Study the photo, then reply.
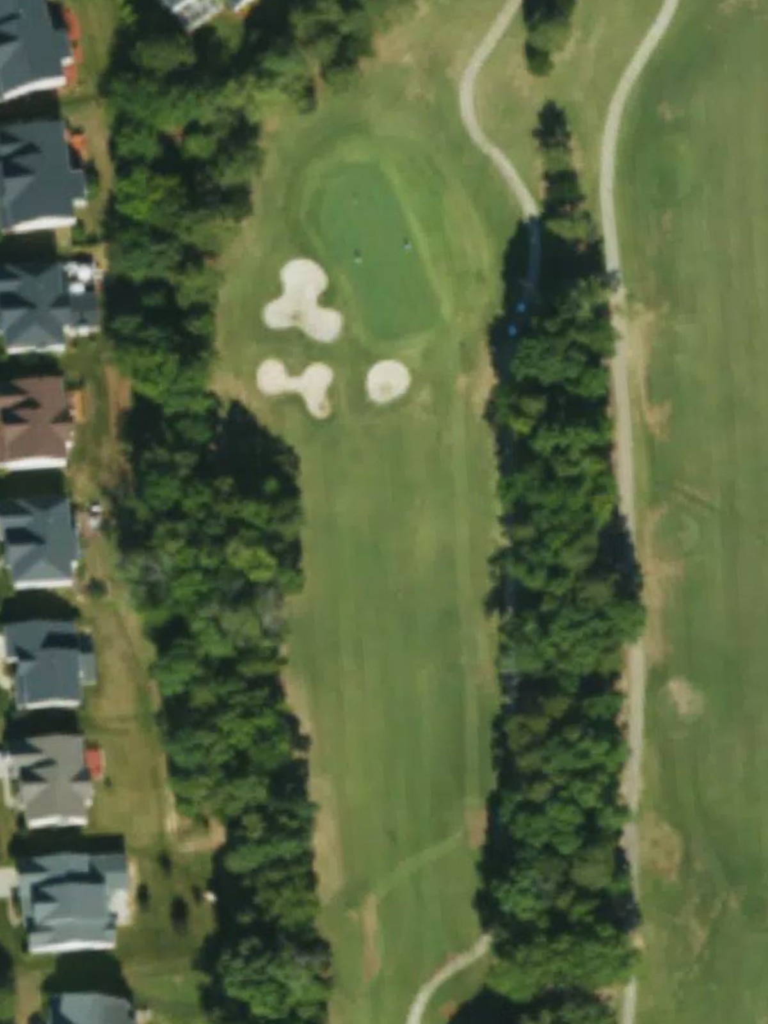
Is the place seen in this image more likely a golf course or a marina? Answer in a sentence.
This looks like a golf course.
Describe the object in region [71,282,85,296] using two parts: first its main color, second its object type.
white umbrella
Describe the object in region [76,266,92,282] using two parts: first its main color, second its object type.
white umbrella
